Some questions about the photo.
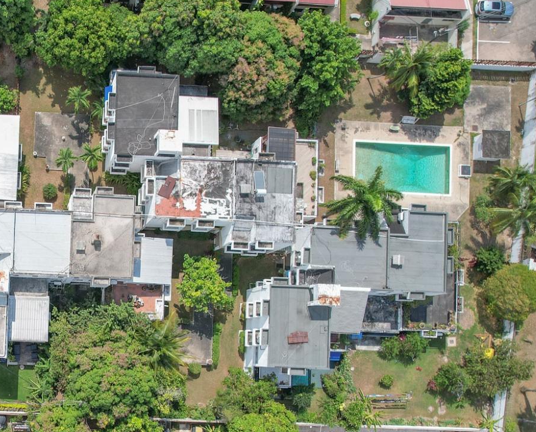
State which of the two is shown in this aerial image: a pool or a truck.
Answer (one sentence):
Of the two, only a pool appears.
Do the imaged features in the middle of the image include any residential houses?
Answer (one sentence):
Yes, there is a residential house in the middle of the image.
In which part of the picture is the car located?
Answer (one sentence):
You can find the car in the top right area of the picture.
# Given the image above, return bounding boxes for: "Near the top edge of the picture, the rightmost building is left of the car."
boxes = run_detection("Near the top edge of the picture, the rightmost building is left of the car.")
[362,0,471,72]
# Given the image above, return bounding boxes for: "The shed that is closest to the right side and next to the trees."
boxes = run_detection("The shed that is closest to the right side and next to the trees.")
[470,131,509,163]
